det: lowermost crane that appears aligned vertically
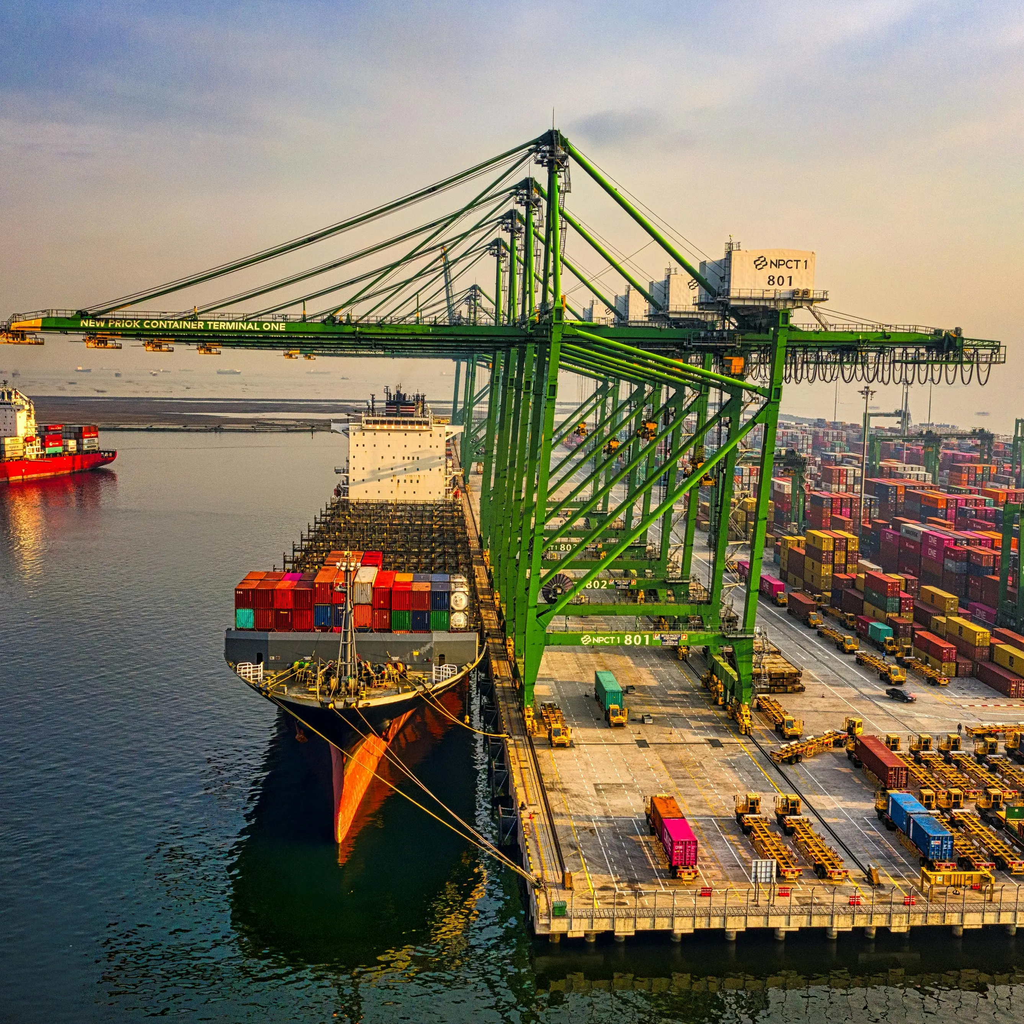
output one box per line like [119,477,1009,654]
[993,504,1024,634]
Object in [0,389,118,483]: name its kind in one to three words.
ship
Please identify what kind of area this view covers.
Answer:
port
